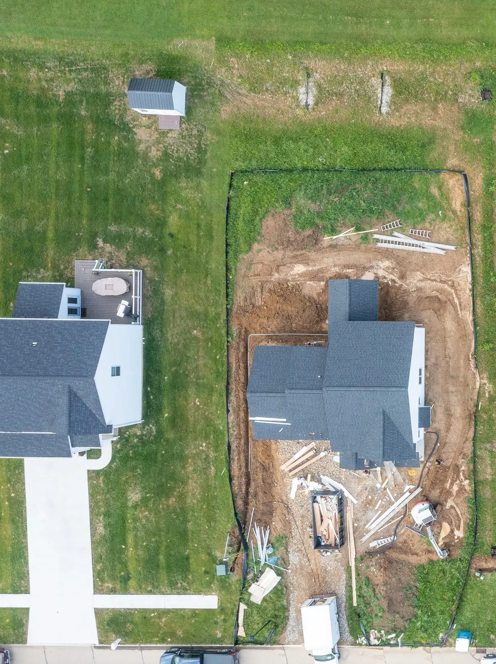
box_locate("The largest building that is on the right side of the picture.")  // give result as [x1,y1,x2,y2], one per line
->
[247,279,432,471]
